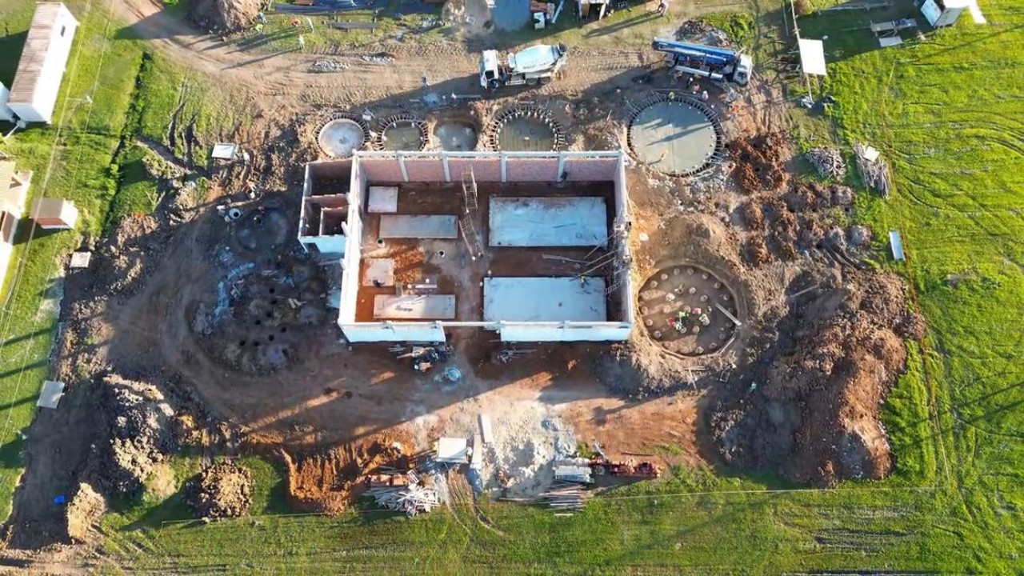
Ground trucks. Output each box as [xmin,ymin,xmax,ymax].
[655,38,755,93]
[477,50,568,93]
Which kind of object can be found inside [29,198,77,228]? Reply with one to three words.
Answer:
shed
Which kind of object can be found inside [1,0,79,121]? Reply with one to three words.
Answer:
house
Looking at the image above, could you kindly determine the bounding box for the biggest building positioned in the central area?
[299,152,631,340]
